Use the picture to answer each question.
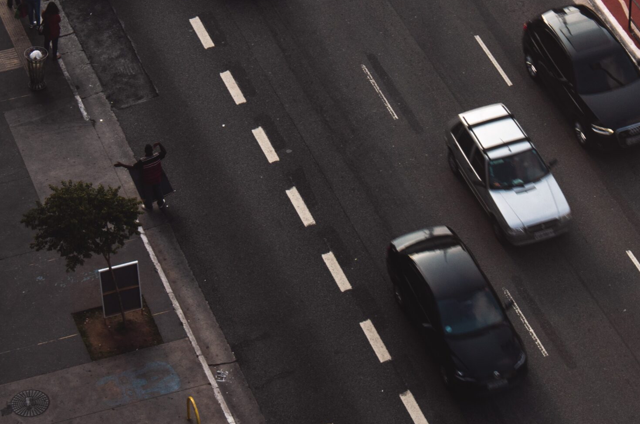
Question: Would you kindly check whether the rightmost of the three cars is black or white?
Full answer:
The rightmost of the three cars looks black in the image.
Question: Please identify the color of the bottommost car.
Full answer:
In this view, the bottommost car is black.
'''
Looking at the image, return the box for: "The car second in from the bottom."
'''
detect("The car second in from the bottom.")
[446,102,573,245]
